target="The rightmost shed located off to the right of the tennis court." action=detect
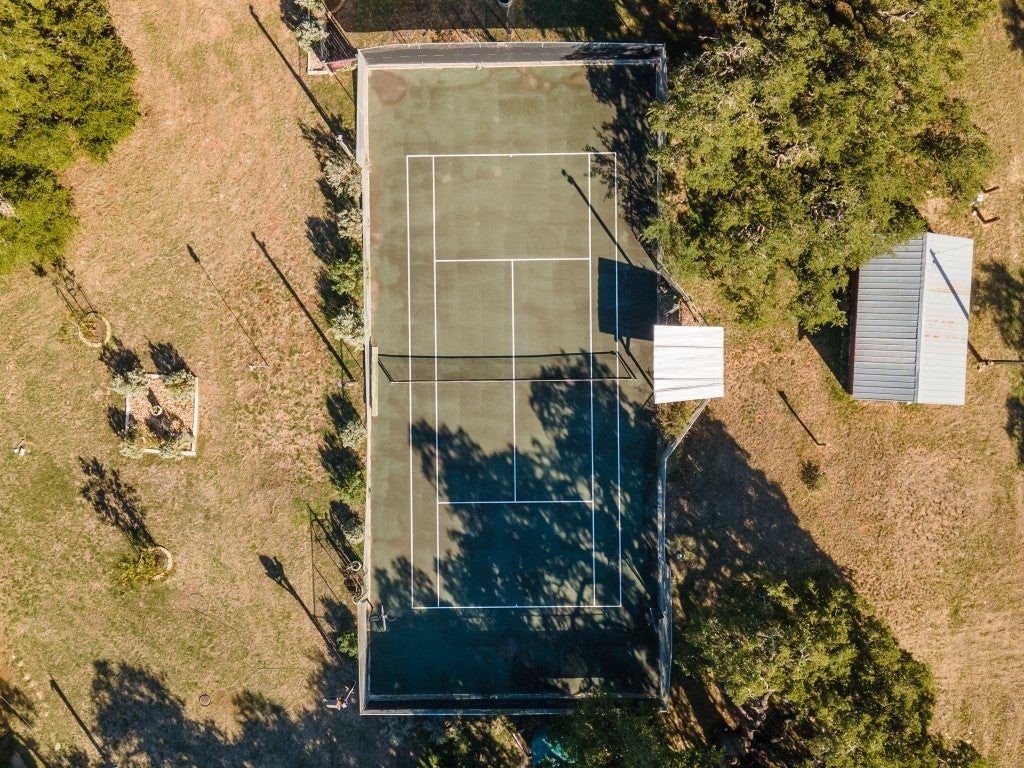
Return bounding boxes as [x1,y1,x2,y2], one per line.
[847,232,973,405]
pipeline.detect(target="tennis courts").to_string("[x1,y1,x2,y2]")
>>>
[367,62,662,698]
